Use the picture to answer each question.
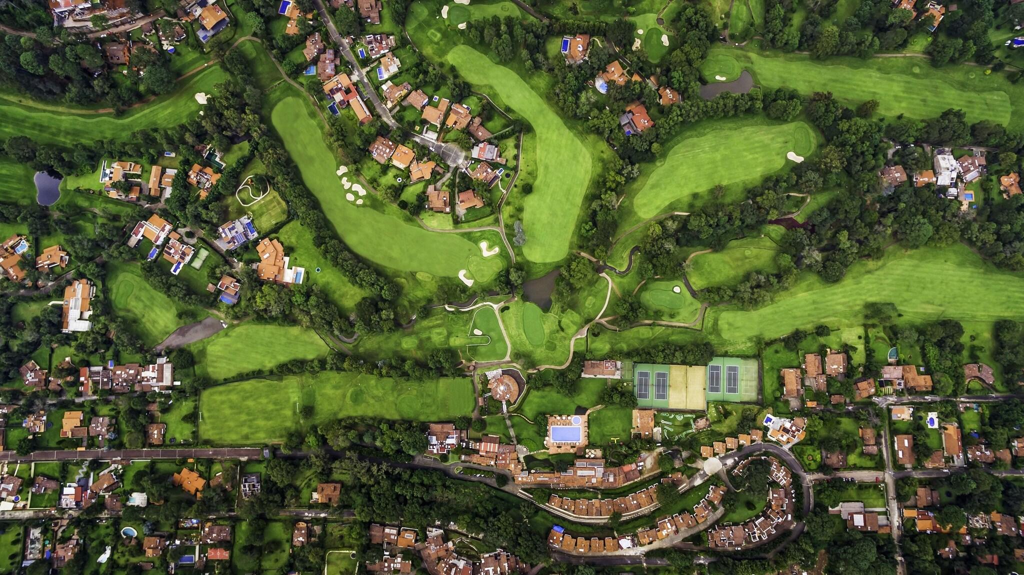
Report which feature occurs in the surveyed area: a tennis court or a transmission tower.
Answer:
tennis court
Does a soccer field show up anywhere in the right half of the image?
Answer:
No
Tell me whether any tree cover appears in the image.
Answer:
Yes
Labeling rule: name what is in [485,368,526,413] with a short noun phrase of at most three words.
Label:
building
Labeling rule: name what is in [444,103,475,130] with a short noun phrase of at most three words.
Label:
house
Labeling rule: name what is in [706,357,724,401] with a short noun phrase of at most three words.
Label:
tennis court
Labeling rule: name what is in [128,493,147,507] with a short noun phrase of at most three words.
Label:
swimming pool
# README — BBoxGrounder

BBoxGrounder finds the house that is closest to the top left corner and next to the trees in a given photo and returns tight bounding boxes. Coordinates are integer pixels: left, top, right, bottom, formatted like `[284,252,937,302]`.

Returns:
[50,0,102,28]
